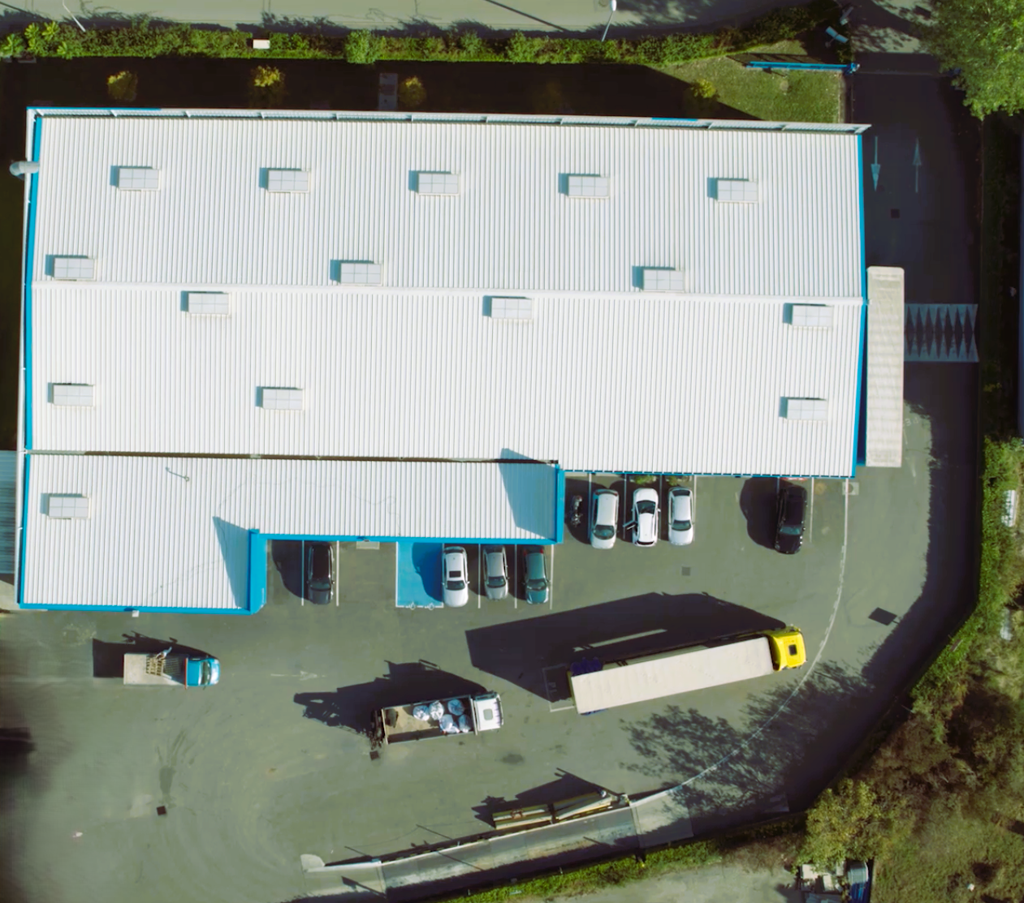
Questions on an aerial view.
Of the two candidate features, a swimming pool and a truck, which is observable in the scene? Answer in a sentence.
The one in the frame is a truck.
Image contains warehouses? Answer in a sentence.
Yes, a warehouse is visible in the scene.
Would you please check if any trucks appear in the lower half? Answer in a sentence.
Yes, I can see a truck in the lower half.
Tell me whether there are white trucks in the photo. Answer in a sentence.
Yes, the frame does contain a white truck.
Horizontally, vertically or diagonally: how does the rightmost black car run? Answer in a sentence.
From this overhead view, the rightmost black car appears to run vertically.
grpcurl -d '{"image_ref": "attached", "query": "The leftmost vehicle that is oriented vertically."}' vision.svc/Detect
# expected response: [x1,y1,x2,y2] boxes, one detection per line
[306,540,337,604]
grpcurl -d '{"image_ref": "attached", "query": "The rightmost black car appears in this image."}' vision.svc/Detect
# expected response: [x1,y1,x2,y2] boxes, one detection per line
[773,483,807,553]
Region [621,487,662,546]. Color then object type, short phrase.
white car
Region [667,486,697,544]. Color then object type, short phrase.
white car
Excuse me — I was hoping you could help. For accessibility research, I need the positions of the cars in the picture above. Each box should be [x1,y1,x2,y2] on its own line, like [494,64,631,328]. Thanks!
[440,544,471,608]
[667,486,697,544]
[590,488,620,548]
[306,540,337,604]
[621,487,662,546]
[521,545,551,603]
[773,483,807,553]
[482,544,510,600]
